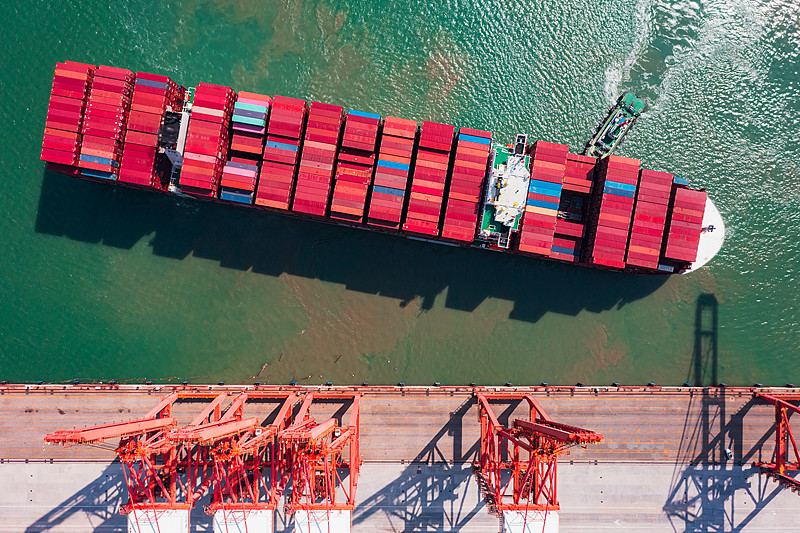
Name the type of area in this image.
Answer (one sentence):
This looks like a port.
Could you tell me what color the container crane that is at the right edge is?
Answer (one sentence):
The color of the container crane that is at the right edge is red.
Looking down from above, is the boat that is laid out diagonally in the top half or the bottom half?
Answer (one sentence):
Seen from above, the boat that is laid out diagonally lies in the top half of the view.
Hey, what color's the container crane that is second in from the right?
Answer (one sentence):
The color of the container crane that is second in from the right is red.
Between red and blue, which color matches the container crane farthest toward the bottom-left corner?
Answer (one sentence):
In this view, the container crane farthest toward the bottom-left corner is red.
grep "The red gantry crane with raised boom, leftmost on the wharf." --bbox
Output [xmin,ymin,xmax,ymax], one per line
[40,392,236,533]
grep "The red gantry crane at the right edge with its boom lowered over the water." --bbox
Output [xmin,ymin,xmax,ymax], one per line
[742,393,800,503]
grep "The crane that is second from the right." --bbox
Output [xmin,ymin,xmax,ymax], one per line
[466,392,609,533]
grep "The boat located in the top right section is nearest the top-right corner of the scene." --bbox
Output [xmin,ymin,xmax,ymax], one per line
[580,92,645,159]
